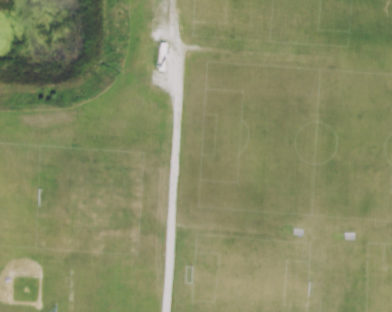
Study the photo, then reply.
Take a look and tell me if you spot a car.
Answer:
No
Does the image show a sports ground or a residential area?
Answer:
sports ground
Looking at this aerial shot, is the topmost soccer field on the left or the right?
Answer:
right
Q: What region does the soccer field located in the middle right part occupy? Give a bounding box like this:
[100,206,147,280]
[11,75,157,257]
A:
[199,62,392,222]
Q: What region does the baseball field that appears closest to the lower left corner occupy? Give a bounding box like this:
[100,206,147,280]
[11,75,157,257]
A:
[0,258,44,310]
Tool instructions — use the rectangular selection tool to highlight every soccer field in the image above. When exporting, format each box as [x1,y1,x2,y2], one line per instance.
[38,146,145,254]
[194,0,353,48]
[192,235,311,312]
[0,142,40,250]
[199,62,392,222]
